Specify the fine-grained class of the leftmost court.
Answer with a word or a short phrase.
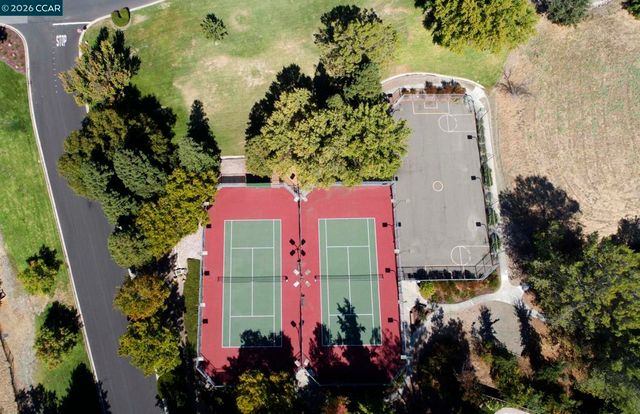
tennis court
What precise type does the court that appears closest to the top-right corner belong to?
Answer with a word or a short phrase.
basketball court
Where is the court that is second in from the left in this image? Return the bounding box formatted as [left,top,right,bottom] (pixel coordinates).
[299,184,402,382]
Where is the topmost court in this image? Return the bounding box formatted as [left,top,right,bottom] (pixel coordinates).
[390,96,493,281]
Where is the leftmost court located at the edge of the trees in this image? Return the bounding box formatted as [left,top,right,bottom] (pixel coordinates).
[201,187,302,385]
